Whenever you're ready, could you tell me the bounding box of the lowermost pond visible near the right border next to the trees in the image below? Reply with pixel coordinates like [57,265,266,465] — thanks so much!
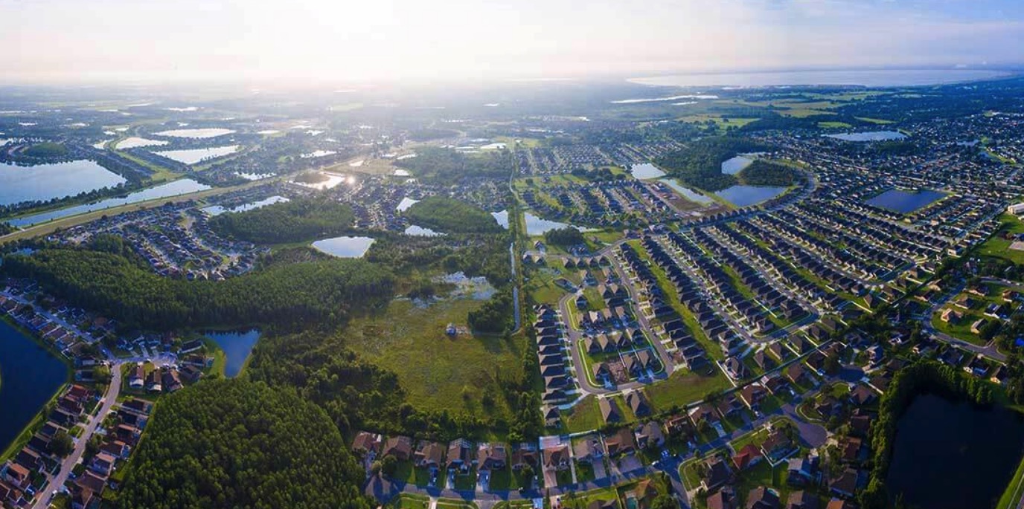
[887,393,1024,509]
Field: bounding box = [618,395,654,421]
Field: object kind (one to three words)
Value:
house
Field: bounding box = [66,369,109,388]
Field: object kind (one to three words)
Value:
house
